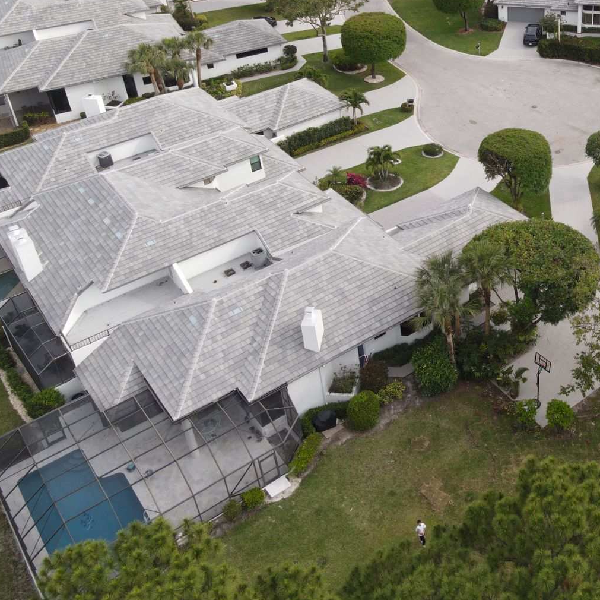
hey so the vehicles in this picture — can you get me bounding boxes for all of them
[524,27,543,47]
[250,11,285,27]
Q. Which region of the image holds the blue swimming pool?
bottom left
